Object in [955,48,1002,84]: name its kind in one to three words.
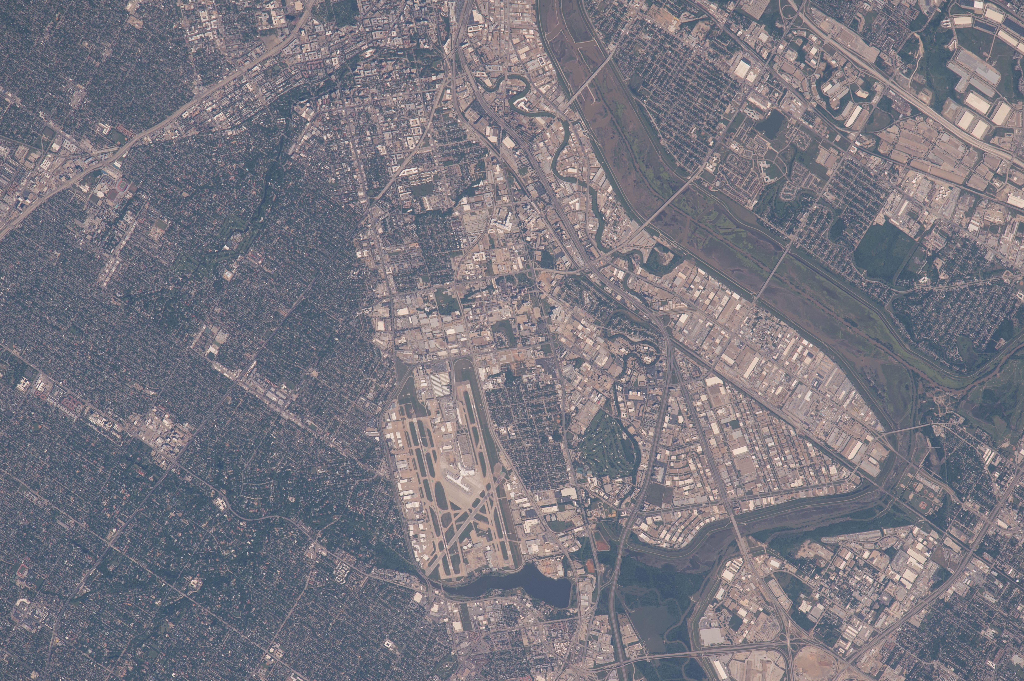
building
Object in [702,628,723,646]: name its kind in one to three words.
building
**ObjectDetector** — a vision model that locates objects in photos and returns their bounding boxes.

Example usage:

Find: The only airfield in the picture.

[384,359,522,581]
